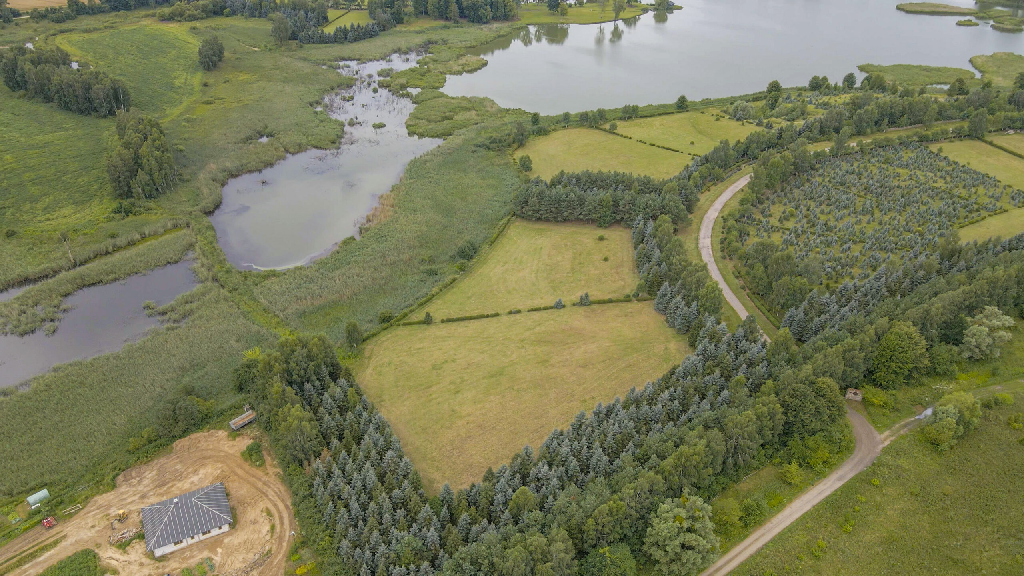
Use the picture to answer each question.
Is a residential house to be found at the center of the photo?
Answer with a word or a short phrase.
No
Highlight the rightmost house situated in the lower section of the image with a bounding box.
[141,481,232,557]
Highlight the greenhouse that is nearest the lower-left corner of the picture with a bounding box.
[23,489,52,512]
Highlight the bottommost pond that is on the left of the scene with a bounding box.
[0,257,200,384]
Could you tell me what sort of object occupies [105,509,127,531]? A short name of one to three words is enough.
work vehicle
